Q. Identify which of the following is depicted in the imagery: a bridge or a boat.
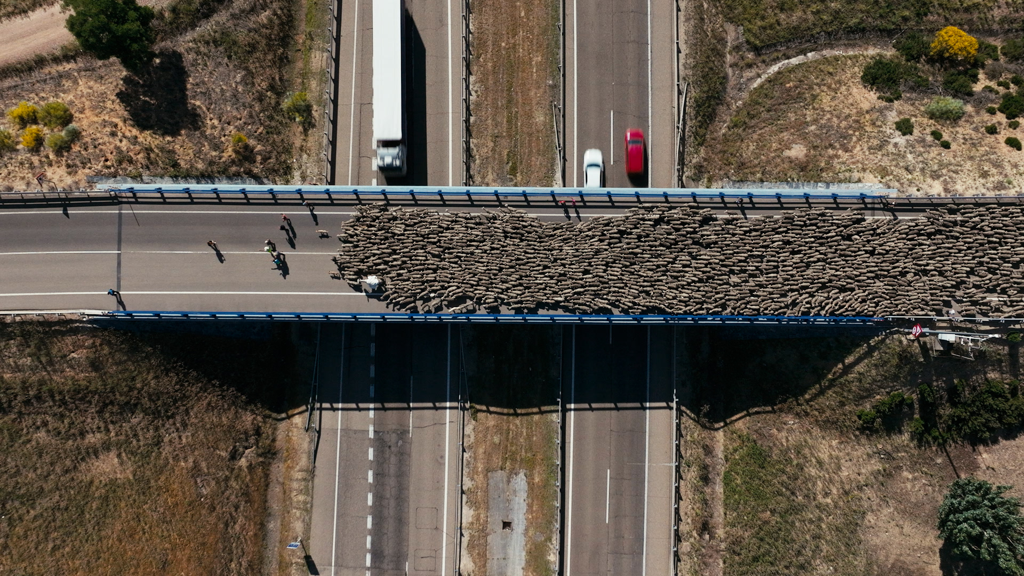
bridge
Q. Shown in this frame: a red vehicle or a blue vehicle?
red vehicle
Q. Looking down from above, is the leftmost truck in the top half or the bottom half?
top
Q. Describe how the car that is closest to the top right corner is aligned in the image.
up and down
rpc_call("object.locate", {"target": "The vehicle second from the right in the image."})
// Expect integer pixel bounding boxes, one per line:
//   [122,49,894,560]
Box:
[583,149,605,186]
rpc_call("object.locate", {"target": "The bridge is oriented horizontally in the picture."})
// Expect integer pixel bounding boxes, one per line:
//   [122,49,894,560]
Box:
[97,182,903,327]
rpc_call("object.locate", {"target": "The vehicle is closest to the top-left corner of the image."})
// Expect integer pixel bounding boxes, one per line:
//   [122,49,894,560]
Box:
[373,0,407,177]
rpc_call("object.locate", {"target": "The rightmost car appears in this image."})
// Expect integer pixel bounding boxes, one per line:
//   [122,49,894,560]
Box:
[624,128,646,173]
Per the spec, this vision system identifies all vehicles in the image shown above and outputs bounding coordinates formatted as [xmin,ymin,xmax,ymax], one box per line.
[583,149,605,186]
[373,0,407,177]
[624,128,646,173]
